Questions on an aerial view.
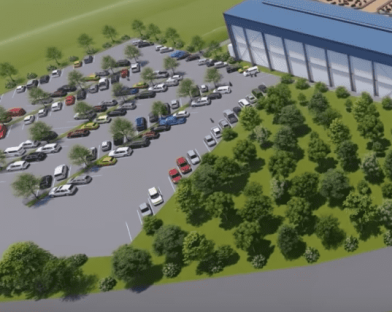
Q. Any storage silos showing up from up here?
No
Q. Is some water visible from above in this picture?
No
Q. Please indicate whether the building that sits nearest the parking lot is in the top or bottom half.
top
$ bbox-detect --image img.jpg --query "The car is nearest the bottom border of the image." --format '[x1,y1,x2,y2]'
[139,201,152,219]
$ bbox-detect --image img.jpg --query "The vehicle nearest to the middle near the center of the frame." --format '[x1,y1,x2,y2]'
[187,150,200,164]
